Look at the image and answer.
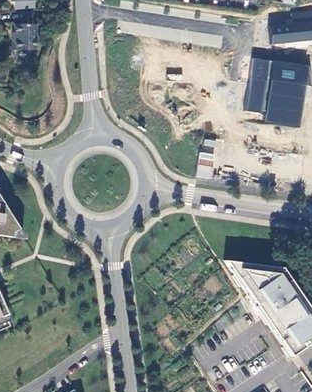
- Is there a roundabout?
Yes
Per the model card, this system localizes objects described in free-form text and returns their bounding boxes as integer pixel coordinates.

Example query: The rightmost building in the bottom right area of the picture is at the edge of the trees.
[225,261,312,357]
